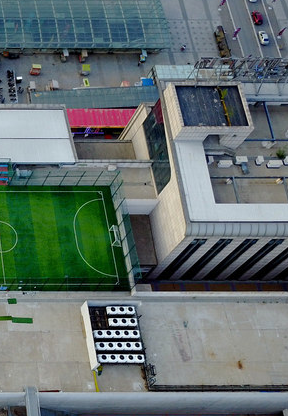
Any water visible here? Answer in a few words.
No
